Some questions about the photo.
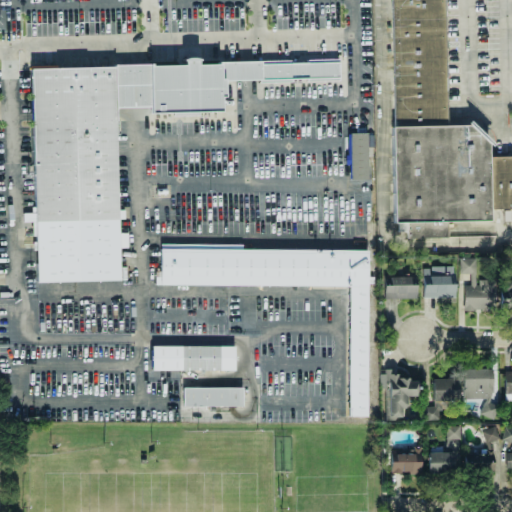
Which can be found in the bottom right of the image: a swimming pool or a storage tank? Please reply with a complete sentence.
What appears in the bottom right of the image is a swimming pool.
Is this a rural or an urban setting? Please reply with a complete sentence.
The area is urban.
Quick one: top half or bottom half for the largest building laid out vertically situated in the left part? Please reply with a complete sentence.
The largest building laid out vertically situated in the left part sits in the top half of the picture.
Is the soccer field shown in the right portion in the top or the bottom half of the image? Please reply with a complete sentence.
The soccer field shown in the right portion sits in the bottom half of the picture.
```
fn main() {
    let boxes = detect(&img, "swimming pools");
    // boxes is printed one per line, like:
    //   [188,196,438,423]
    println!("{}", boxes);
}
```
[390,430,419,446]
[462,425,483,448]
[465,400,482,416]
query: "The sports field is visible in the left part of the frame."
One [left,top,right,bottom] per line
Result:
[0,419,274,512]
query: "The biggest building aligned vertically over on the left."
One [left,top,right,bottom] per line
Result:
[32,65,123,283]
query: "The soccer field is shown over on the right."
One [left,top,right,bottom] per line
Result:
[275,421,371,512]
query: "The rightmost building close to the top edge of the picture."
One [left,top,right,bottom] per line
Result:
[394,0,450,126]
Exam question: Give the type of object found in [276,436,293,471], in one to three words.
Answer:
sports court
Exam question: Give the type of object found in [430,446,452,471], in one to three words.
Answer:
house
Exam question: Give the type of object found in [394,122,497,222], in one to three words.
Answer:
building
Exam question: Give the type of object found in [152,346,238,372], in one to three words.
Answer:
shed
